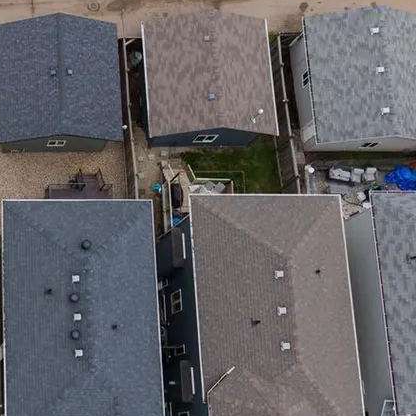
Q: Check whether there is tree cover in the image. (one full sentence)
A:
No, the scene doesn't show any tree cover.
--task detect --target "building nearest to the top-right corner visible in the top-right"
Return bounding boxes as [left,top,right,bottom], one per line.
[285,2,416,156]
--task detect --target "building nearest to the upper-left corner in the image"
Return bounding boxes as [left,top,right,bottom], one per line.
[0,12,124,157]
